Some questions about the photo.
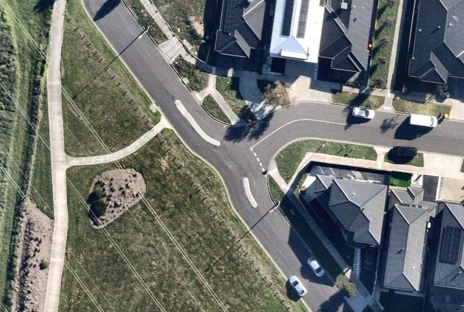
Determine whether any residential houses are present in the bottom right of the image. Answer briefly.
Yes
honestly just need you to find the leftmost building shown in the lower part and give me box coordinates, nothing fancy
[313,174,389,245]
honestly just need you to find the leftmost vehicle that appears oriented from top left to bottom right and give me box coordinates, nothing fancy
[288,274,307,298]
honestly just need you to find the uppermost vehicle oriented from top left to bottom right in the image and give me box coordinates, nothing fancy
[307,256,326,277]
